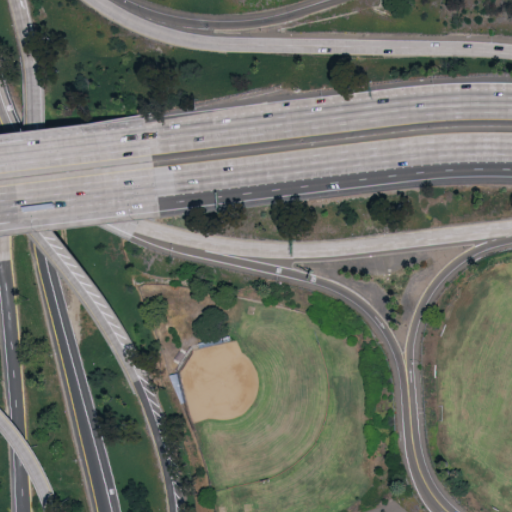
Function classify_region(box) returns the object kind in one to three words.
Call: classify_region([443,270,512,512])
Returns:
sports field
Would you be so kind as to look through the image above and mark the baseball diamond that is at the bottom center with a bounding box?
[178,302,328,490]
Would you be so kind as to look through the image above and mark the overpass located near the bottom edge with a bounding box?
[0,408,54,505]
